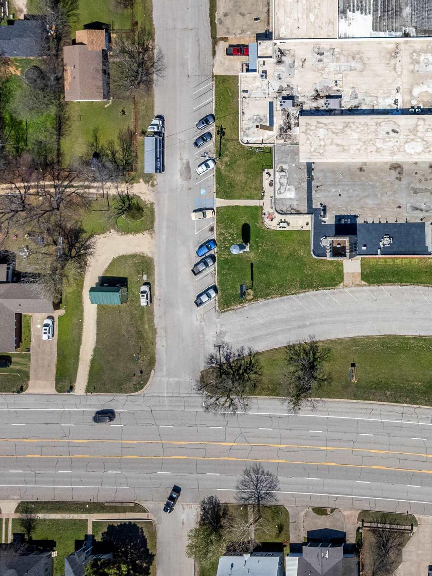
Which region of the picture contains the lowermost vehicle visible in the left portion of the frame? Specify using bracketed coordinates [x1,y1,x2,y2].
[164,485,181,511]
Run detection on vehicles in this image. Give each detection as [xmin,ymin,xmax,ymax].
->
[192,209,214,219]
[193,133,214,149]
[196,159,216,175]
[0,358,11,367]
[196,115,216,131]
[191,256,216,275]
[164,485,181,511]
[194,240,219,257]
[42,319,55,340]
[193,286,218,307]
[144,117,163,173]
[93,412,115,423]
[225,44,249,56]
[140,284,151,304]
